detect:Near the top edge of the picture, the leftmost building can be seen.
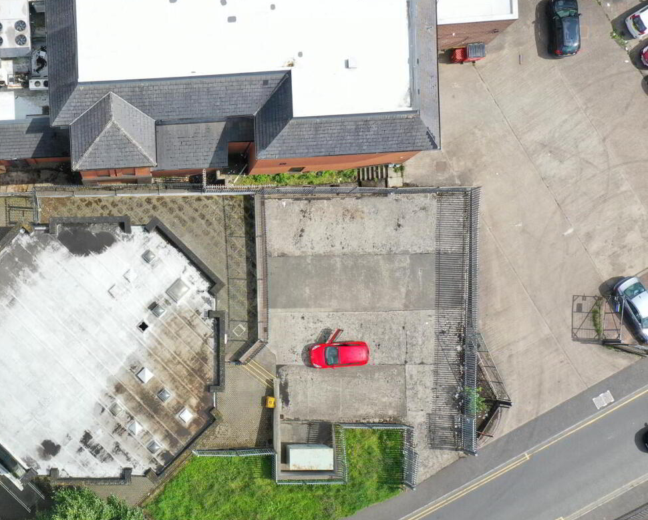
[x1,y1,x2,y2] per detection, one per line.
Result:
[0,0,441,186]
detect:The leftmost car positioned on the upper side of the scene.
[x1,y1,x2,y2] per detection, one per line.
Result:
[543,0,581,59]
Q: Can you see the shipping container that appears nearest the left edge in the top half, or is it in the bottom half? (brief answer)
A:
bottom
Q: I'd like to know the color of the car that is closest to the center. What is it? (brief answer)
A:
red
